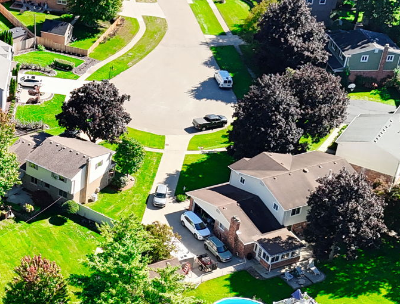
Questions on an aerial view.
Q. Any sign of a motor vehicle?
Yes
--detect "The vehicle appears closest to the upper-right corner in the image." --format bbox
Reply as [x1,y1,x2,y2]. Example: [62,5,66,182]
[214,66,234,86]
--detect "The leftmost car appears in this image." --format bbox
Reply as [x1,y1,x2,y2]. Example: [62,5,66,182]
[17,75,45,89]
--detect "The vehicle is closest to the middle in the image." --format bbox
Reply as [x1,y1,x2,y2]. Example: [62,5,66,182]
[192,114,232,132]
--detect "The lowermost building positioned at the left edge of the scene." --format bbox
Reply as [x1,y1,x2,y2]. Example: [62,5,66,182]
[11,131,109,204]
